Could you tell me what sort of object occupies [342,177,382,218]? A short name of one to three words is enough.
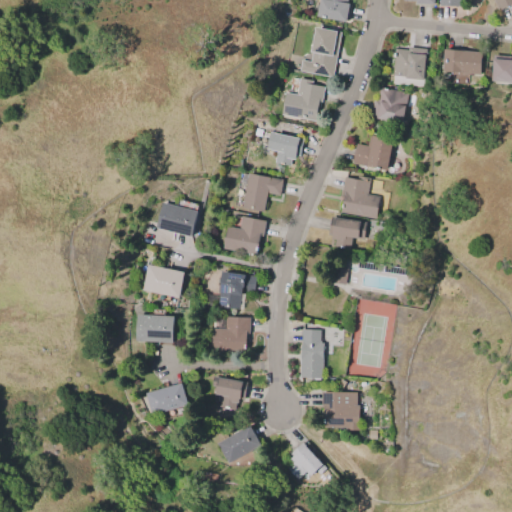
house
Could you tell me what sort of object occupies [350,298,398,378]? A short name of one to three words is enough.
tennis court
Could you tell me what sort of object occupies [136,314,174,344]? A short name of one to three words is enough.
house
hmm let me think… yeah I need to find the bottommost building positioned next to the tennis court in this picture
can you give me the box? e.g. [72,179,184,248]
[324,392,361,432]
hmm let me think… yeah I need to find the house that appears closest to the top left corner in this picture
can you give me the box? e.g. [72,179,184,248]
[158,202,198,236]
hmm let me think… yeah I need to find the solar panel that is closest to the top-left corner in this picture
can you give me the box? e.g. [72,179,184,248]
[160,220,191,234]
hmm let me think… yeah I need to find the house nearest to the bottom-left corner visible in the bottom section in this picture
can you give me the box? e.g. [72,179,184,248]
[147,384,186,411]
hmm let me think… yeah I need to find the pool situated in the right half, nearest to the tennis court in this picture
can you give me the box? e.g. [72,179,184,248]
[352,263,411,297]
